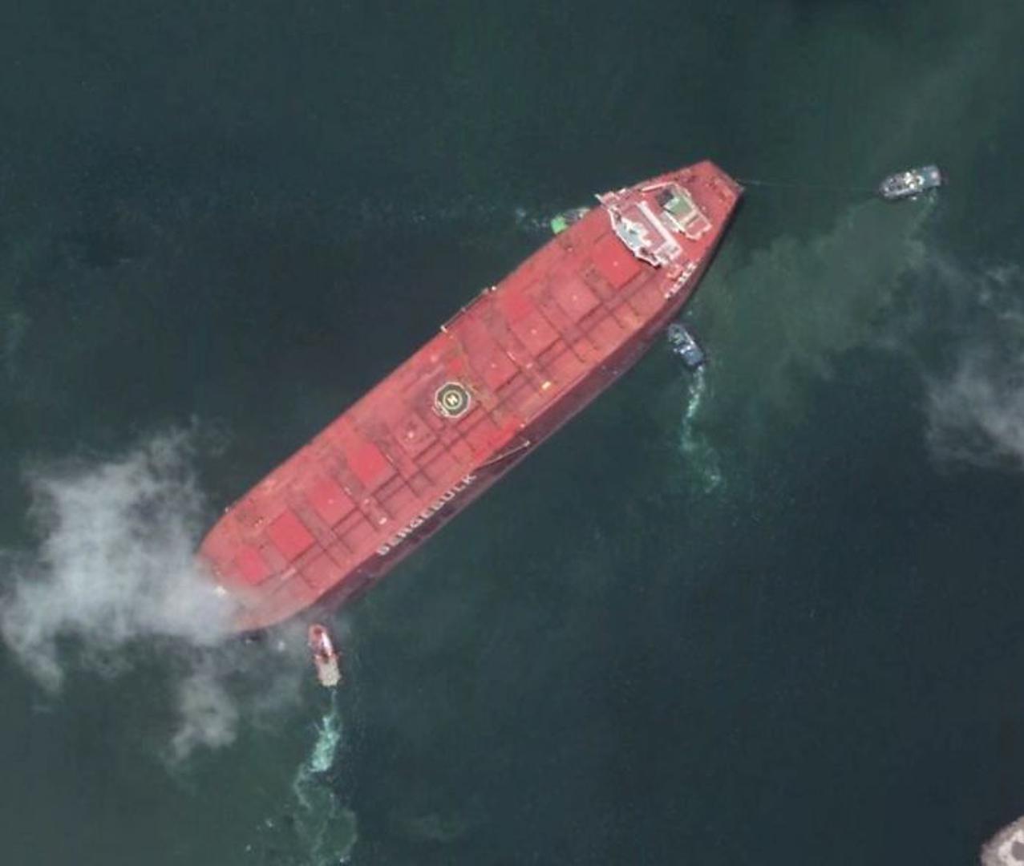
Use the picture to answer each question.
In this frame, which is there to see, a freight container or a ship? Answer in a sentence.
This aerial view contains a ship.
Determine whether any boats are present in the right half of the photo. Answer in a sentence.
Yes, looking in the right half of the photo, one can make out a boat.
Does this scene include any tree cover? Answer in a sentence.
No, tree cover can't be seen anywhere here.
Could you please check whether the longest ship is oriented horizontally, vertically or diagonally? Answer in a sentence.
The longest ship is oriented diagonally.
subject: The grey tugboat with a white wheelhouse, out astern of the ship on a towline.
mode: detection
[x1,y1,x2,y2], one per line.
[879,168,943,198]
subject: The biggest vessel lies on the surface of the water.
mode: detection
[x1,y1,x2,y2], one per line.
[190,158,741,630]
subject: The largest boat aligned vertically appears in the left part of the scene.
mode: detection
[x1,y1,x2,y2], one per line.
[308,623,341,690]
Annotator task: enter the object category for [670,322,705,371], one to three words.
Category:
boat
